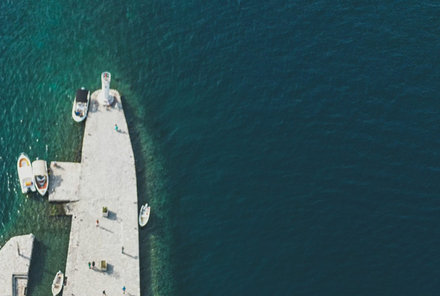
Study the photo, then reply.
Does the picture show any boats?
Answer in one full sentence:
Yes, a boat can be made out from above.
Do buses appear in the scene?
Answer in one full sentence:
No, the photo shows no bus.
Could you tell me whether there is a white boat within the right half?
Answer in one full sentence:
No, no white boat appears within the right half.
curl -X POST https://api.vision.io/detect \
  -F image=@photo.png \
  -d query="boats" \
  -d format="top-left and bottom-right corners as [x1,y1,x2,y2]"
[74,84,90,124]
[19,155,36,194]
[32,157,48,197]
[139,203,151,226]
[52,268,63,296]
